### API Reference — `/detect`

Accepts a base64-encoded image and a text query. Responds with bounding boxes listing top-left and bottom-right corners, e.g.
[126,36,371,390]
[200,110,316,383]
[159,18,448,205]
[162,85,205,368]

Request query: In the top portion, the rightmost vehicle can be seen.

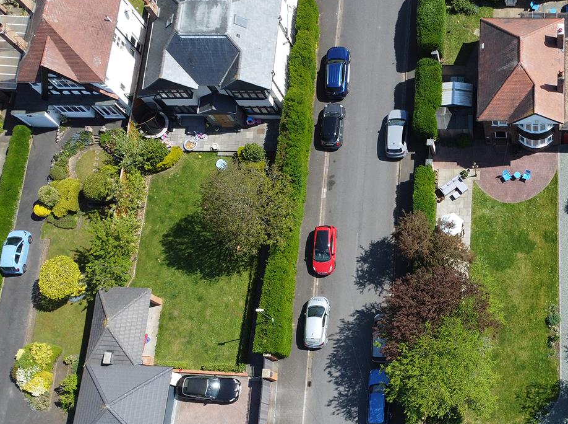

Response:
[382,111,408,160]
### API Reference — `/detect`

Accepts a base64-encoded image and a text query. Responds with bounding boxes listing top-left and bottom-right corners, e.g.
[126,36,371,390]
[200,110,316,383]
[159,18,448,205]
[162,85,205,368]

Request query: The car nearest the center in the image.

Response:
[308,225,340,278]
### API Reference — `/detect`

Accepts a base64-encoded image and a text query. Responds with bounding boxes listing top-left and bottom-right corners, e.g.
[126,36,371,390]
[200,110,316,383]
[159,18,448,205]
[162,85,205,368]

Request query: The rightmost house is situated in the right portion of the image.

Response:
[476,13,568,154]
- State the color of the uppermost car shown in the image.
blue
